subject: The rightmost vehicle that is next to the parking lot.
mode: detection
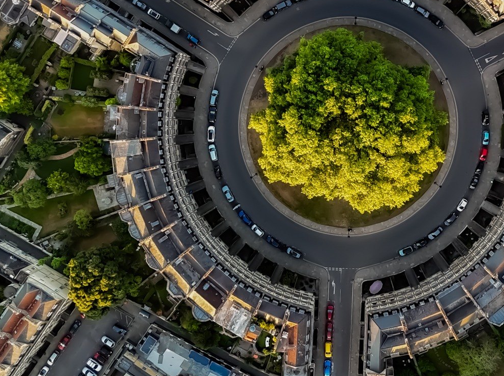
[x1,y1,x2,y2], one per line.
[134,307,153,320]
